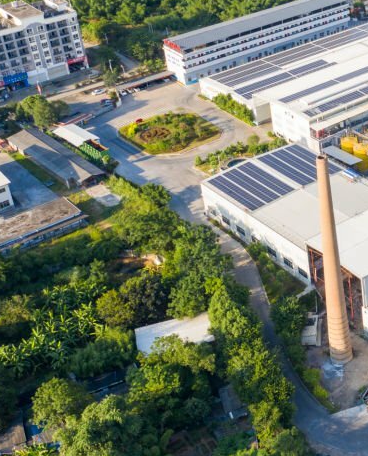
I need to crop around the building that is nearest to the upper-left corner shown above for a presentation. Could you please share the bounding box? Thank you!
[0,0,88,94]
